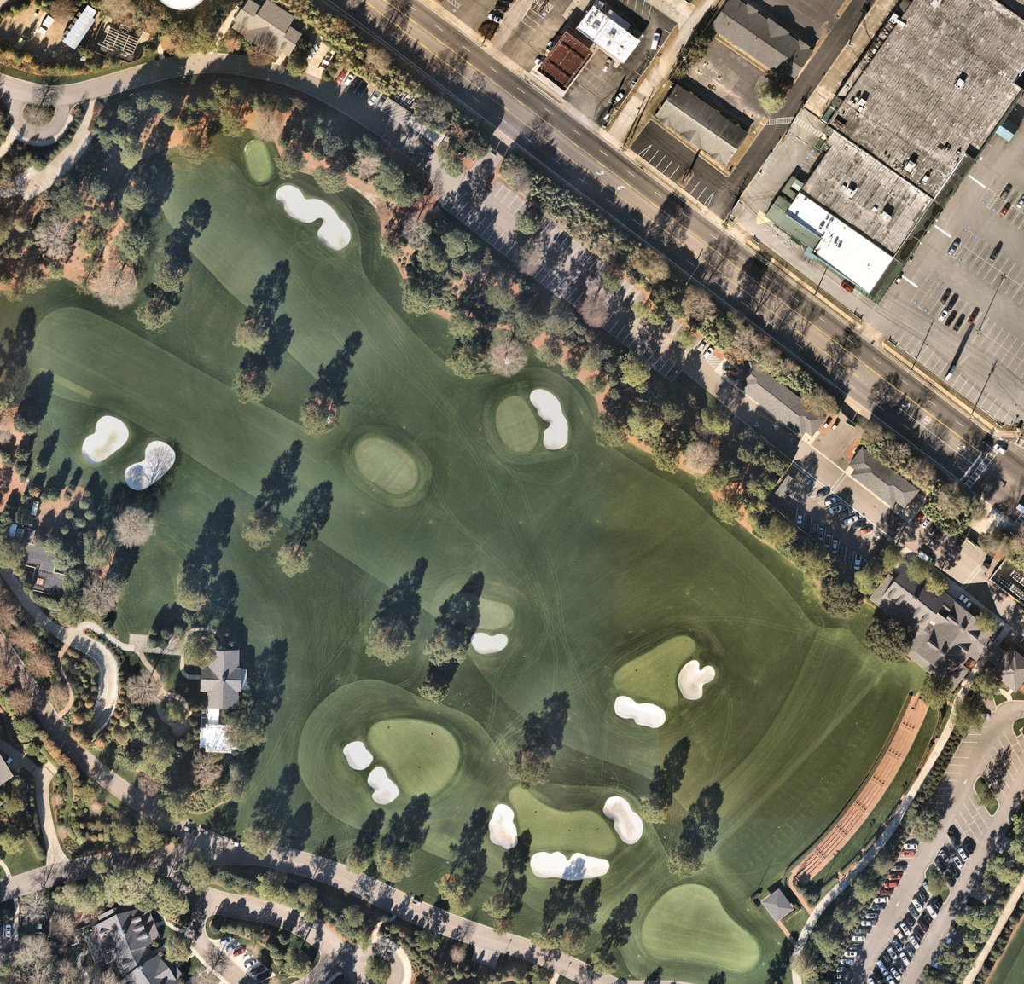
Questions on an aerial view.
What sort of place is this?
golf course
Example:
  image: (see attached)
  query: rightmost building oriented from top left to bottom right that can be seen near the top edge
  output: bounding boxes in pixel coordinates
[710,0,819,84]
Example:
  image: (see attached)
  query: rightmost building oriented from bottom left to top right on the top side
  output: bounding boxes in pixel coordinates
[766,0,1024,304]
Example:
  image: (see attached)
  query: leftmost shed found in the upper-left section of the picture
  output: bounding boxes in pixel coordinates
[61,3,99,49]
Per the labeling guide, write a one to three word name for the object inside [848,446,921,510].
building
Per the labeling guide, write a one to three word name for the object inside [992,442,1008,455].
vehicle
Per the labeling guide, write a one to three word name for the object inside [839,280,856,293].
vehicle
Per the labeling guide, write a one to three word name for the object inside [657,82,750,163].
building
